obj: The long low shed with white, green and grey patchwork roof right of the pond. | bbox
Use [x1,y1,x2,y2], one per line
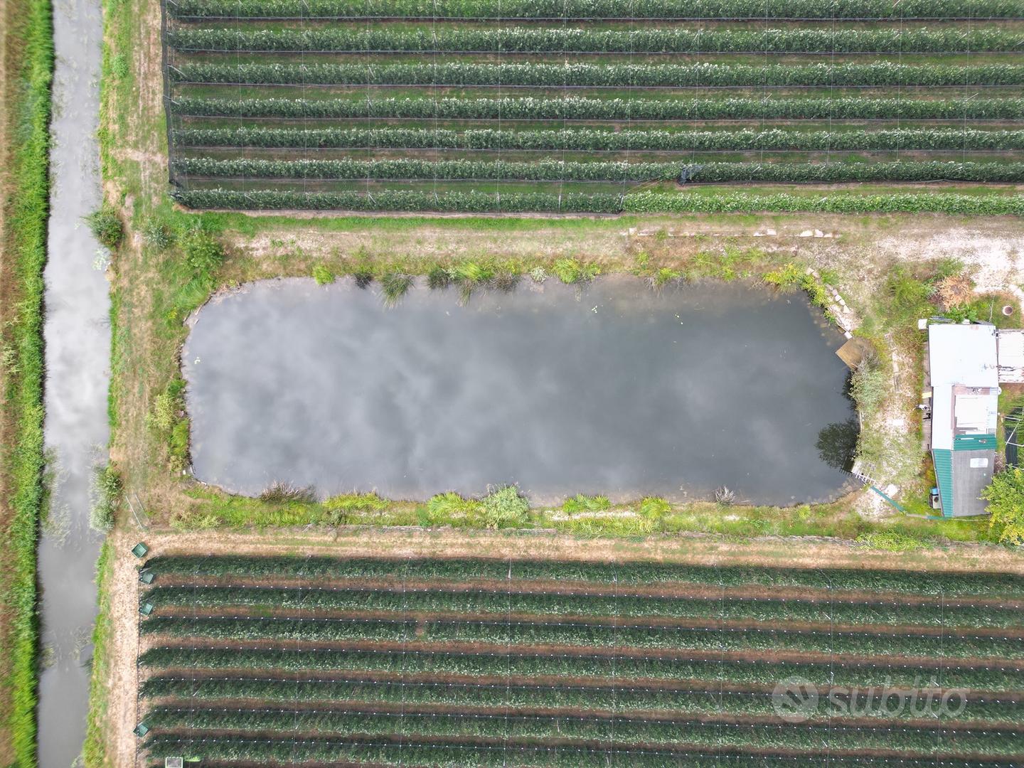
[918,320,1003,518]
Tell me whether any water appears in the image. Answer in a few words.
Yes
